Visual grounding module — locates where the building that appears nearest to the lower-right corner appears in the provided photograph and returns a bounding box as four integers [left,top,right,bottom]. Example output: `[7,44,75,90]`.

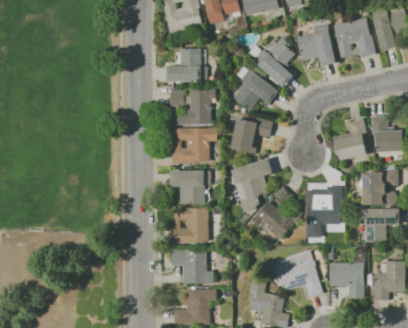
[367,261,406,300]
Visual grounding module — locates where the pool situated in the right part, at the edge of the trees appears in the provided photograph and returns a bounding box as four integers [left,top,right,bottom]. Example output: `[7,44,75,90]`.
[236,33,260,46]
